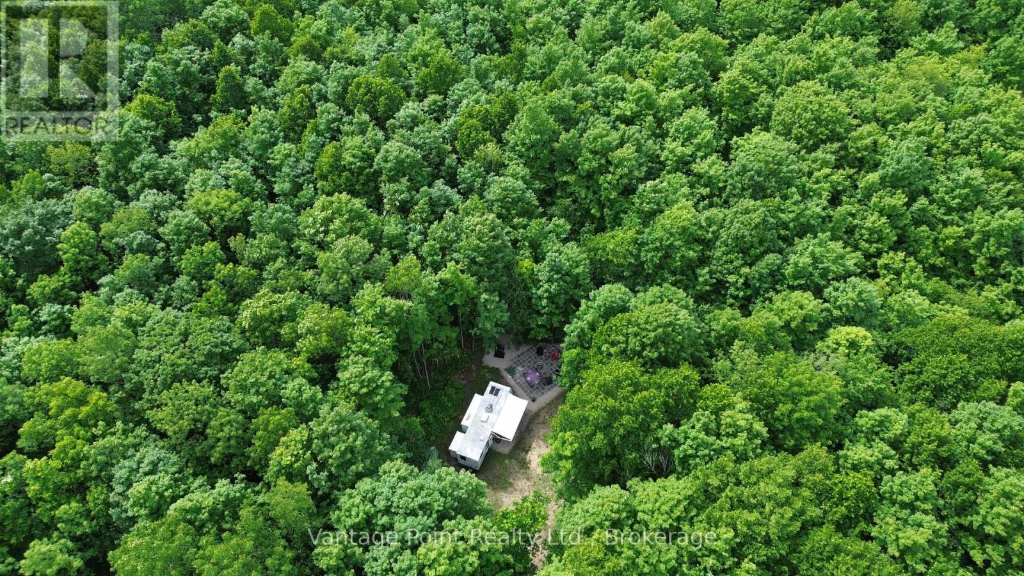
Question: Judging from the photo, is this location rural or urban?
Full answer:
From above, the setting appears rural.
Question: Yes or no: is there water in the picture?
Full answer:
No, no water is visible.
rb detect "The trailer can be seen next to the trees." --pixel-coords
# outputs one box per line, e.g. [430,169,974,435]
[449,381,528,475]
